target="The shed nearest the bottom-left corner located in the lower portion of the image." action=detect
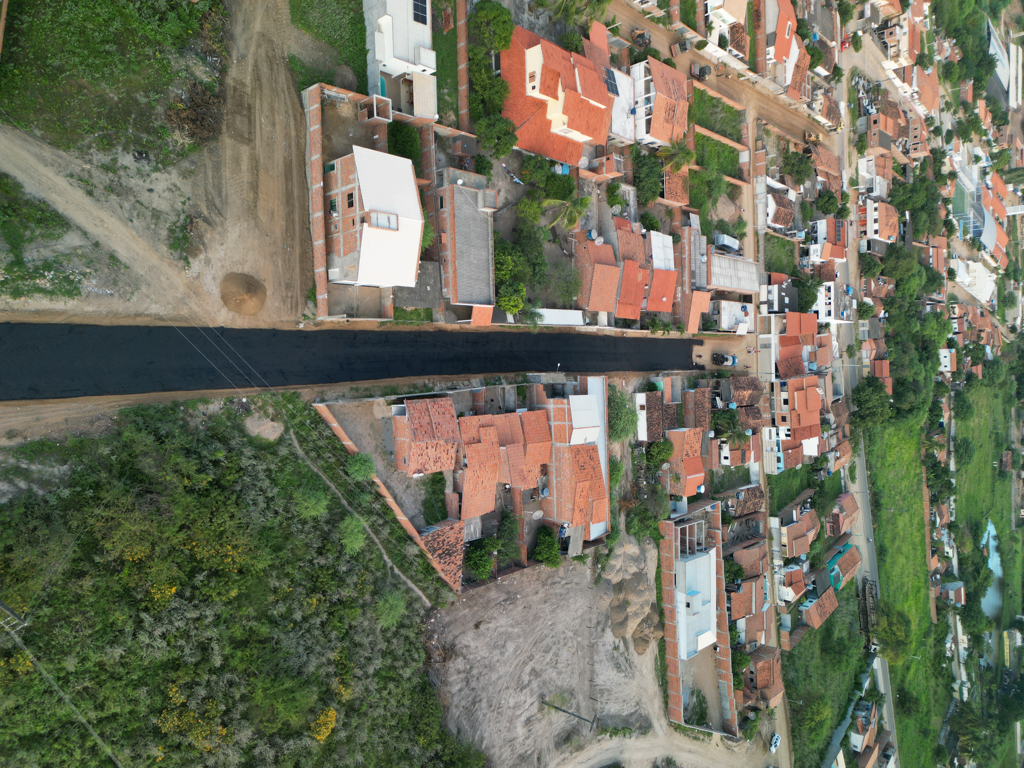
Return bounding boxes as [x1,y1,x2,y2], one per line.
[417,520,464,594]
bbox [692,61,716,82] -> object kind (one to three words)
work vehicle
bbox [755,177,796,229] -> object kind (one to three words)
house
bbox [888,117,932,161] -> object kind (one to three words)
building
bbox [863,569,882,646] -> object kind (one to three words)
vehicle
